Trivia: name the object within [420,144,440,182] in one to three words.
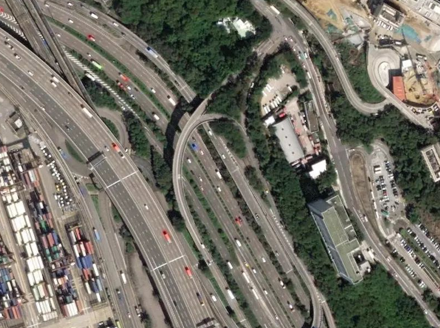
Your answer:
building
